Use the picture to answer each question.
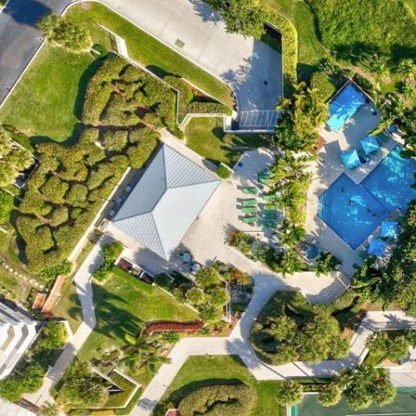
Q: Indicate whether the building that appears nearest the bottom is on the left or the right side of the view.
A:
left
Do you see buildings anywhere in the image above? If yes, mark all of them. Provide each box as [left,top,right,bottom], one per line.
[0,300,38,378]
[112,144,225,260]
